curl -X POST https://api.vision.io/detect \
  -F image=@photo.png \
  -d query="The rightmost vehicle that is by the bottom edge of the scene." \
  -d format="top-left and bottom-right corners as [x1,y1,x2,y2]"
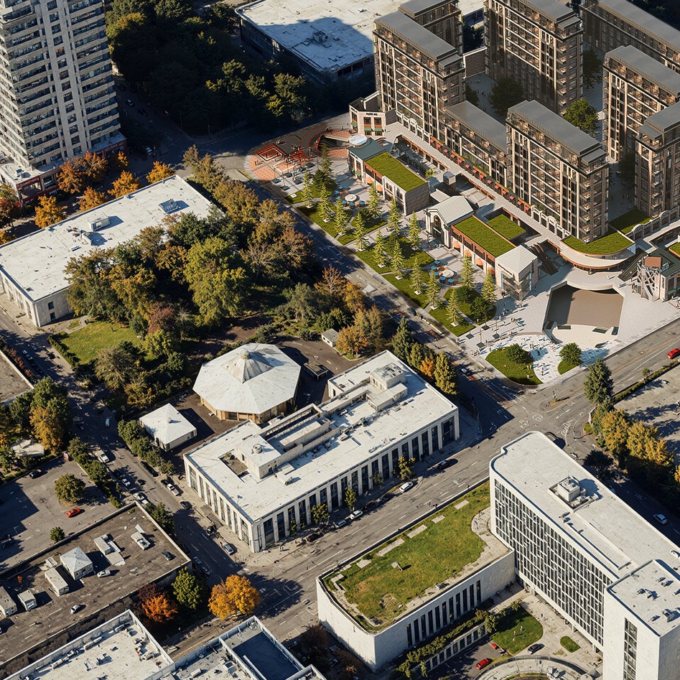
[524,641,546,658]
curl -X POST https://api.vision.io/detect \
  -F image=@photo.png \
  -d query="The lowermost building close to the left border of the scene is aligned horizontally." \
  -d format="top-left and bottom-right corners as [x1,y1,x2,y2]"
[0,609,174,680]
